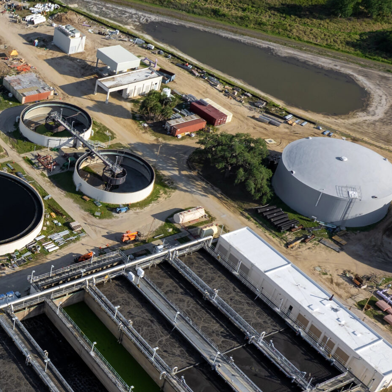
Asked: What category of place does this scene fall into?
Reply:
industrial area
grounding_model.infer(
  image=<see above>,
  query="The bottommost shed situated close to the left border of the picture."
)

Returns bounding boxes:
[2,72,54,104]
